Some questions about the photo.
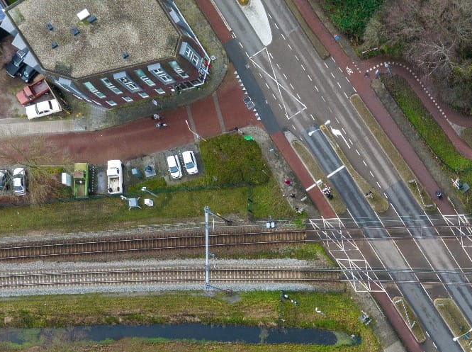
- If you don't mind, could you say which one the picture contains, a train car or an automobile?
automobile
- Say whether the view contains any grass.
Yes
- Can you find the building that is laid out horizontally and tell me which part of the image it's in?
top left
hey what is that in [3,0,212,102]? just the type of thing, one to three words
building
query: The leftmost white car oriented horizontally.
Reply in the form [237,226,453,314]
[27,100,62,118]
